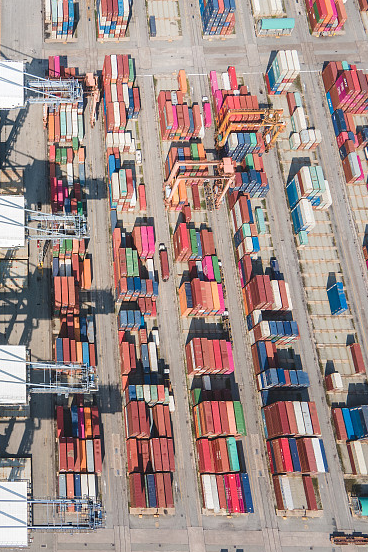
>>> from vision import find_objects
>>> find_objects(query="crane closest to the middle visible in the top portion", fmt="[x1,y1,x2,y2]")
[163,158,233,205]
